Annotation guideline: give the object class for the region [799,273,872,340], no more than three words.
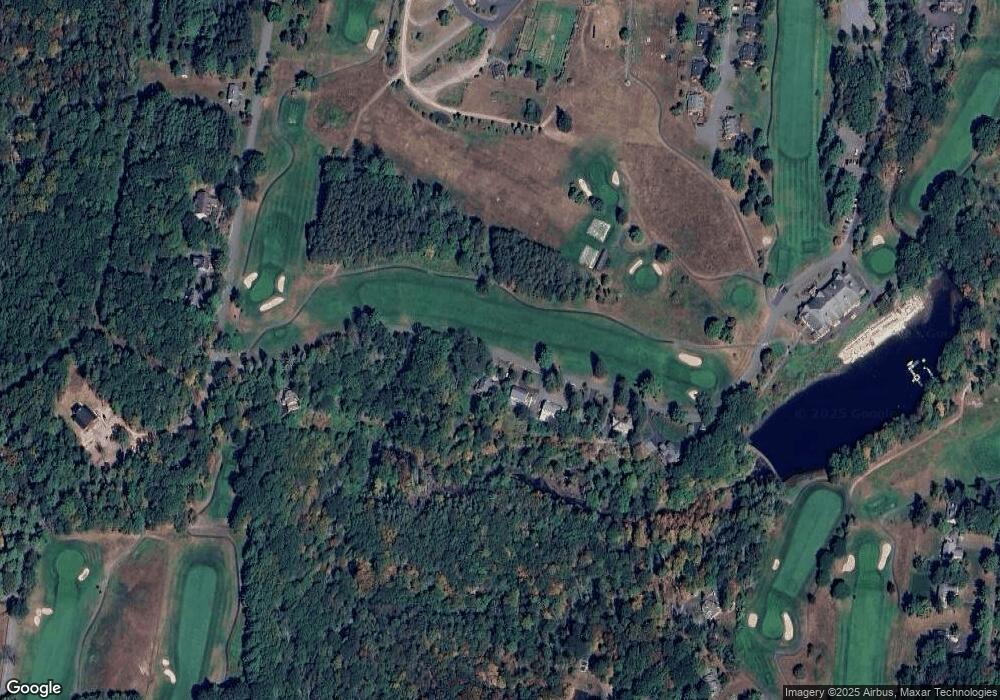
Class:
building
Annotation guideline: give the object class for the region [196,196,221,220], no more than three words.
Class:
house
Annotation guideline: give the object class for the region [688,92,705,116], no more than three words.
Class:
house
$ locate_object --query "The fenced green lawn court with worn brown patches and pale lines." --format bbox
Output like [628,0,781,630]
[527,1,579,75]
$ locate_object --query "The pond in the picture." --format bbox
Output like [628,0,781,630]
[752,270,968,481]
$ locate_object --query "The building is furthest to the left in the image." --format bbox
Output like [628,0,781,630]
[64,400,100,427]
